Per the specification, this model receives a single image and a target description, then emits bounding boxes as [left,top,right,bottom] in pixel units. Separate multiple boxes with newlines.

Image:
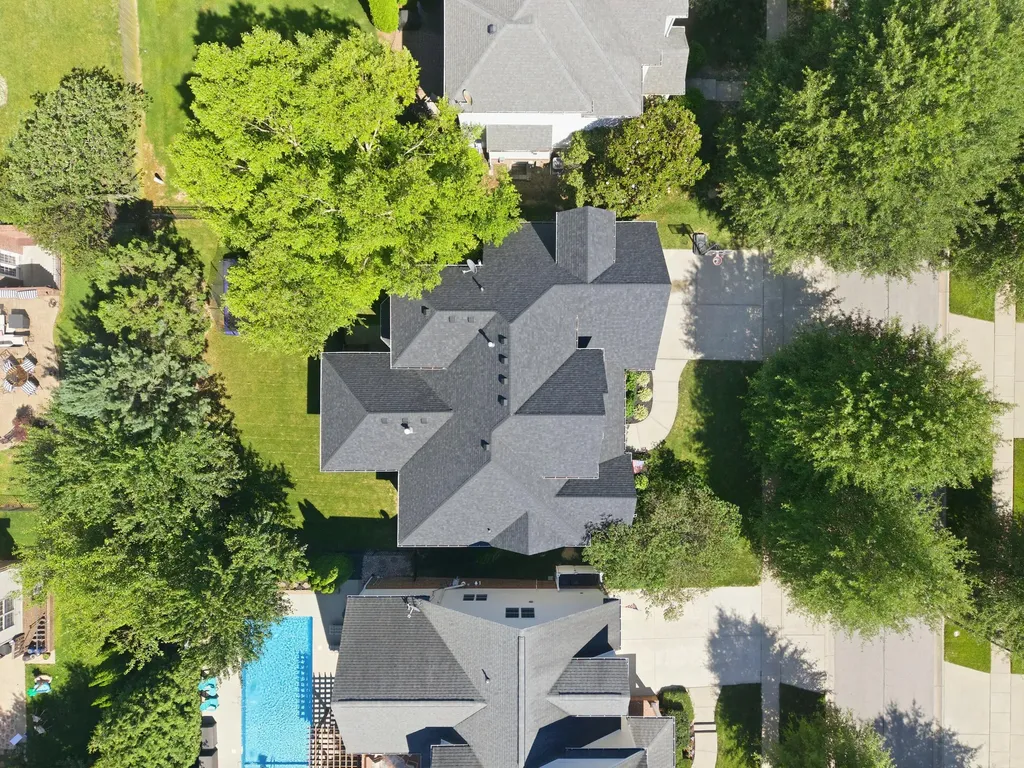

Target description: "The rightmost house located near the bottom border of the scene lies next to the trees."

[330,574,676,768]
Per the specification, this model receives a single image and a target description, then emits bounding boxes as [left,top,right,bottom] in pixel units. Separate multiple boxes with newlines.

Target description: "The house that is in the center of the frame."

[319,205,672,557]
